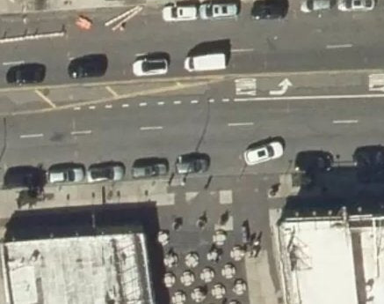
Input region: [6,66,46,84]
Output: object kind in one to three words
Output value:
car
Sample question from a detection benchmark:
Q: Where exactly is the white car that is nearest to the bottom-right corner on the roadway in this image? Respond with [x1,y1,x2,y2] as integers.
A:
[243,142,283,164]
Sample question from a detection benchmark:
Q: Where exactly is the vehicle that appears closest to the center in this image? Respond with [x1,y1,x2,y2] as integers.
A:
[175,157,210,174]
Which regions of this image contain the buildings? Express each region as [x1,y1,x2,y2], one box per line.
[281,221,384,304]
[1,230,154,304]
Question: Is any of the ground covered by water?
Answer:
No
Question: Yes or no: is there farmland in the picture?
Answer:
No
